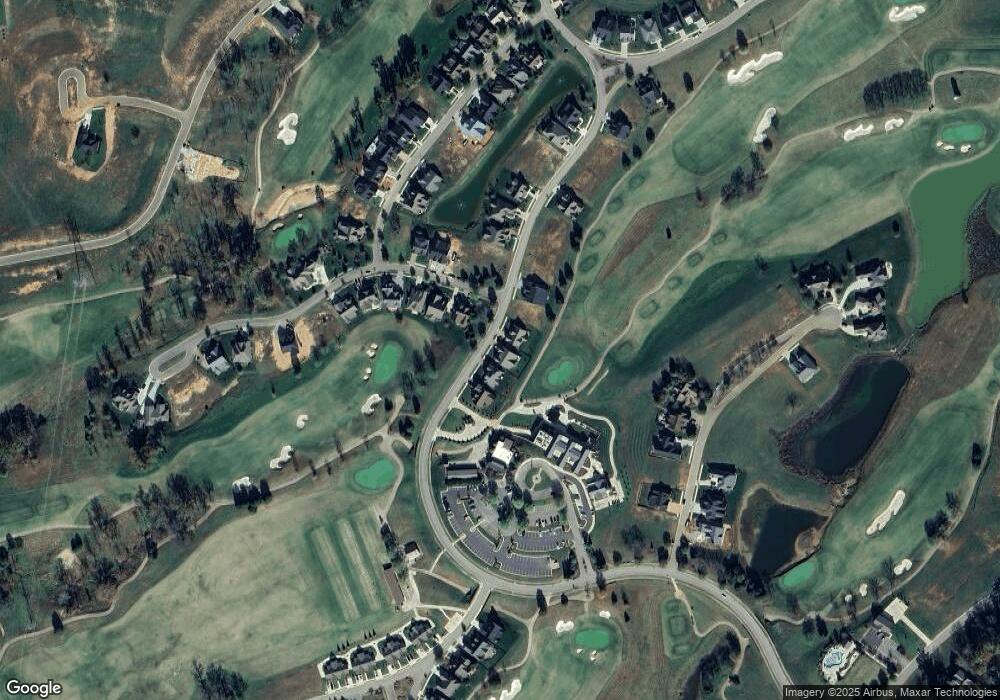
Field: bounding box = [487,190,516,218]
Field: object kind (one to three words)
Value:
house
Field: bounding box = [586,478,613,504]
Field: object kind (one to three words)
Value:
building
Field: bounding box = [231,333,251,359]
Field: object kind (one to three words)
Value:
house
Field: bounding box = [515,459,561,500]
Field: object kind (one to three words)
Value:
roundabout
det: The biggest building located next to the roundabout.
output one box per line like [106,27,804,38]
[529,410,600,470]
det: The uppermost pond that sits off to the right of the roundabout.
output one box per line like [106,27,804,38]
[793,359,910,477]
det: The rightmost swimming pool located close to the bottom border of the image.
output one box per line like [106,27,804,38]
[822,643,860,682]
